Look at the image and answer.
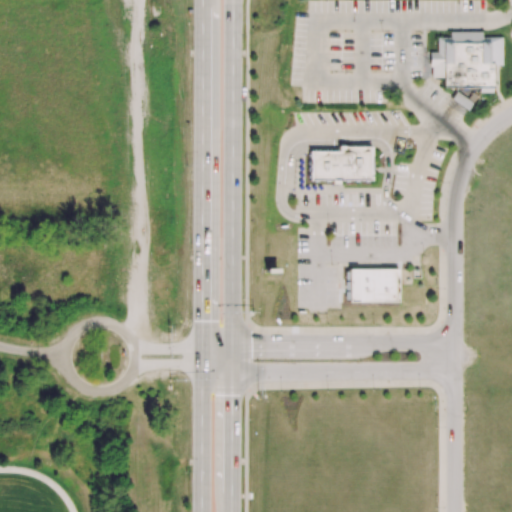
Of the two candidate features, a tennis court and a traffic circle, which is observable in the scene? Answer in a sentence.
Visible in the photo is a traffic circle.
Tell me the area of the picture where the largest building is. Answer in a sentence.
The largest building sits in the top right section of the image.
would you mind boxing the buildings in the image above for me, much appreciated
[348,268,401,304]
[429,32,505,94]
[307,146,376,186]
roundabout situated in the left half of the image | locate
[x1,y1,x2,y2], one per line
[62,315,140,396]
